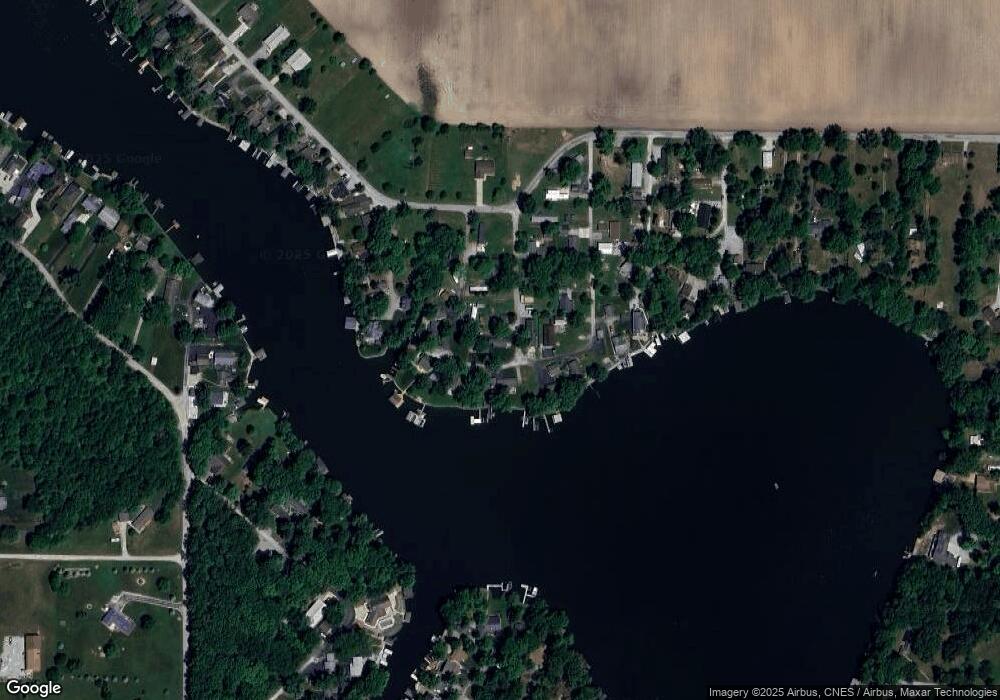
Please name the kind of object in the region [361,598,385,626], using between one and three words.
house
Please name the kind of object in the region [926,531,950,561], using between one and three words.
house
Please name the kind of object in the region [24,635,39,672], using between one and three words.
barn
